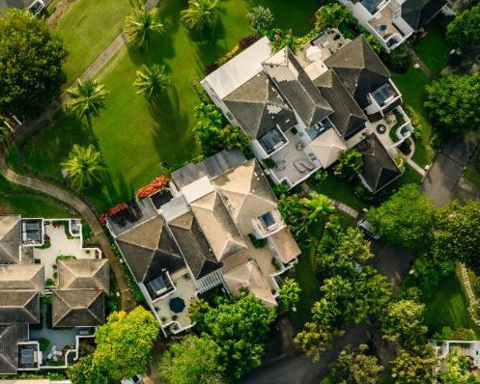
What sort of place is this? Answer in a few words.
residential area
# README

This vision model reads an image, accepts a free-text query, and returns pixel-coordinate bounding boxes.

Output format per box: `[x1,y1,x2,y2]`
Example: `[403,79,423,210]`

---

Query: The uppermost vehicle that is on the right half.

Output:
[355,216,379,237]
